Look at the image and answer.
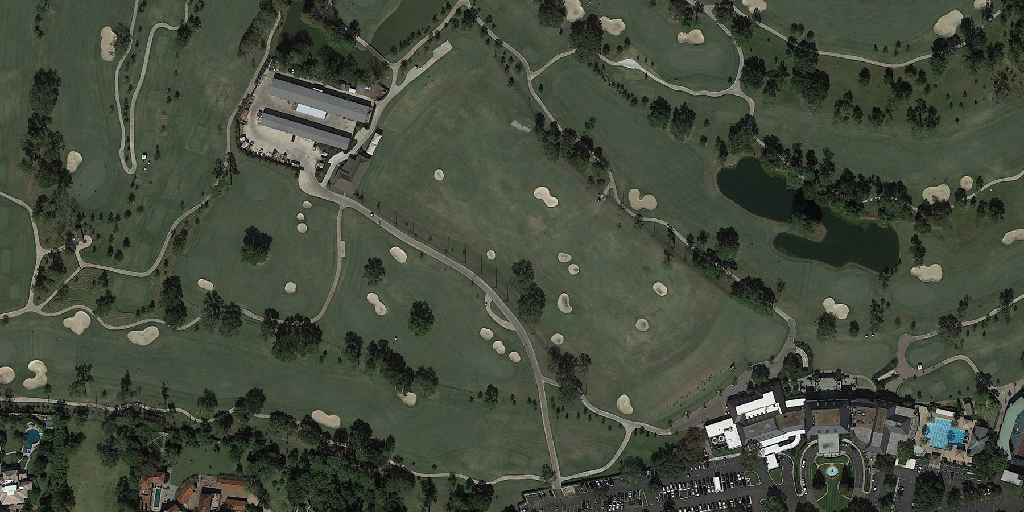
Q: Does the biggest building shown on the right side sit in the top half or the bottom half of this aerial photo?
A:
bottom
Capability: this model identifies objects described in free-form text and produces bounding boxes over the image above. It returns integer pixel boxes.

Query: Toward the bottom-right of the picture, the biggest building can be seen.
[705,380,917,469]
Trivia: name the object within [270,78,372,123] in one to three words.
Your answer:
shed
